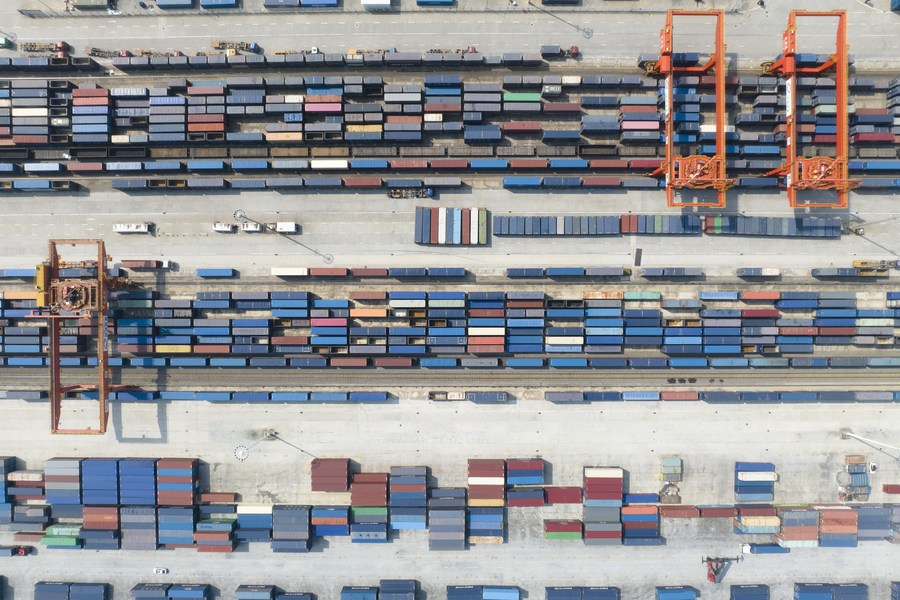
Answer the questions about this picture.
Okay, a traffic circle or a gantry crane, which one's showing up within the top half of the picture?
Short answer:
gantry crane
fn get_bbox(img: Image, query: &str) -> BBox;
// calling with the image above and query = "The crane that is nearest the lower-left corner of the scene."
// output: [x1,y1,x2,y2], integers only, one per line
[22,238,152,435]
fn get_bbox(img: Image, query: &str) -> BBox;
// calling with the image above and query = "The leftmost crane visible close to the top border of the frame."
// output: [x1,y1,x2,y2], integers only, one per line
[635,8,738,209]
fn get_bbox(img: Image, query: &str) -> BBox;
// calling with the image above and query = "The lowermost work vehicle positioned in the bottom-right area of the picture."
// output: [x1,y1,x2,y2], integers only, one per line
[704,562,748,589]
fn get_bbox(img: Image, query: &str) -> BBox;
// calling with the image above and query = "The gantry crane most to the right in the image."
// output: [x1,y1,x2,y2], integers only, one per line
[747,9,861,209]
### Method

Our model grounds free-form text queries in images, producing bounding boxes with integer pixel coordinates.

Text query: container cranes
[635,8,738,209]
[22,238,152,435]
[747,9,861,209]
